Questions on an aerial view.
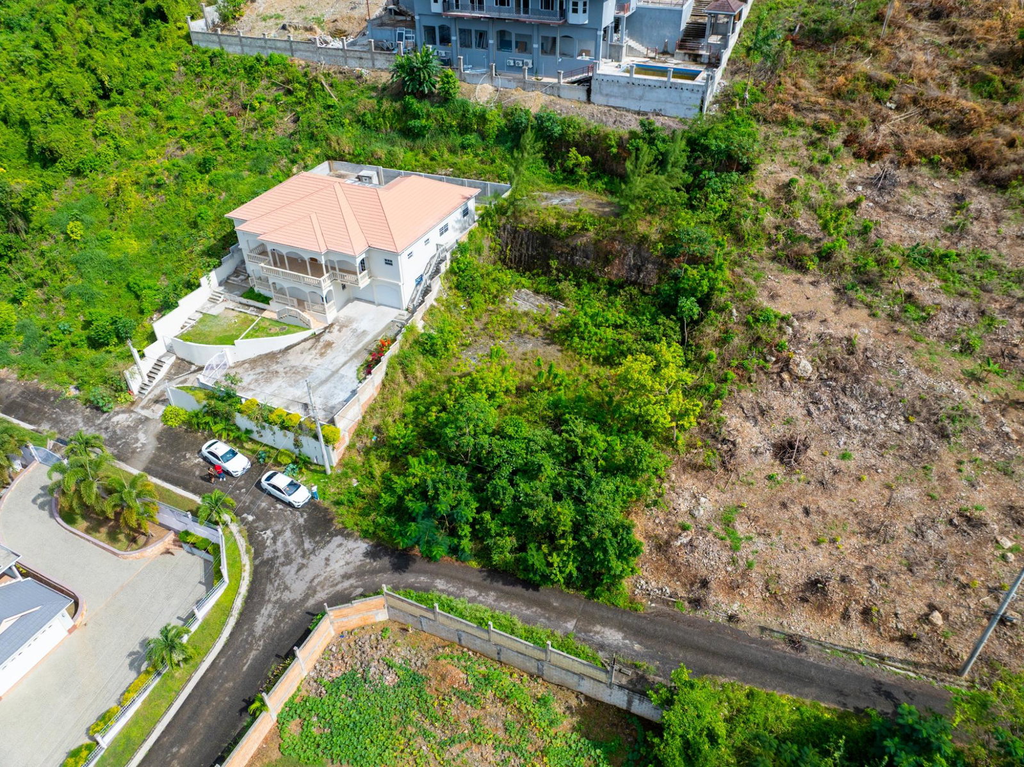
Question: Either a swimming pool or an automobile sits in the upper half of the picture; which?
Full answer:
You can see a swimming pool in the upper half of the picture.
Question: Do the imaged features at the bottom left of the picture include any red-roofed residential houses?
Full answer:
No, there is no red-roofed residential house at the bottom left of the picture.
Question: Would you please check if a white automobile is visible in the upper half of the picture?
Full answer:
No, looking in the upper half of the picture, there is no white automobile.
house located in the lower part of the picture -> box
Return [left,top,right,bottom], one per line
[0,541,77,691]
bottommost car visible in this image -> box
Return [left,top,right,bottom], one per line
[255,473,313,513]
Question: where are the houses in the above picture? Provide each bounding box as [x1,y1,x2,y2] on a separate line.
[224,172,482,321]
[386,0,701,71]
[0,541,77,691]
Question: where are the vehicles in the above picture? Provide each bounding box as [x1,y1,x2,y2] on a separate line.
[255,473,313,513]
[195,442,251,479]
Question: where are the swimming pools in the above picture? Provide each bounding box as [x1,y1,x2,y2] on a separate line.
[589,49,714,109]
